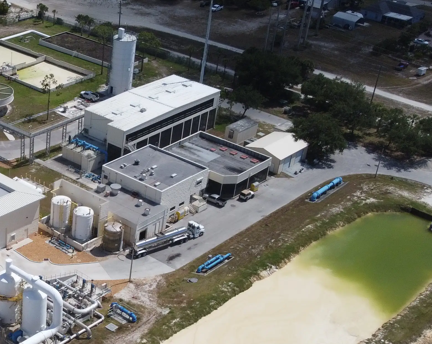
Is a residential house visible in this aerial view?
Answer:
Yes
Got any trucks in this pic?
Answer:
Yes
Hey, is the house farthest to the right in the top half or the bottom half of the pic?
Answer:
top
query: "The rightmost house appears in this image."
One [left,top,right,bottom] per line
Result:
[363,3,430,34]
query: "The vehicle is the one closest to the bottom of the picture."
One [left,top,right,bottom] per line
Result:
[123,217,205,255]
